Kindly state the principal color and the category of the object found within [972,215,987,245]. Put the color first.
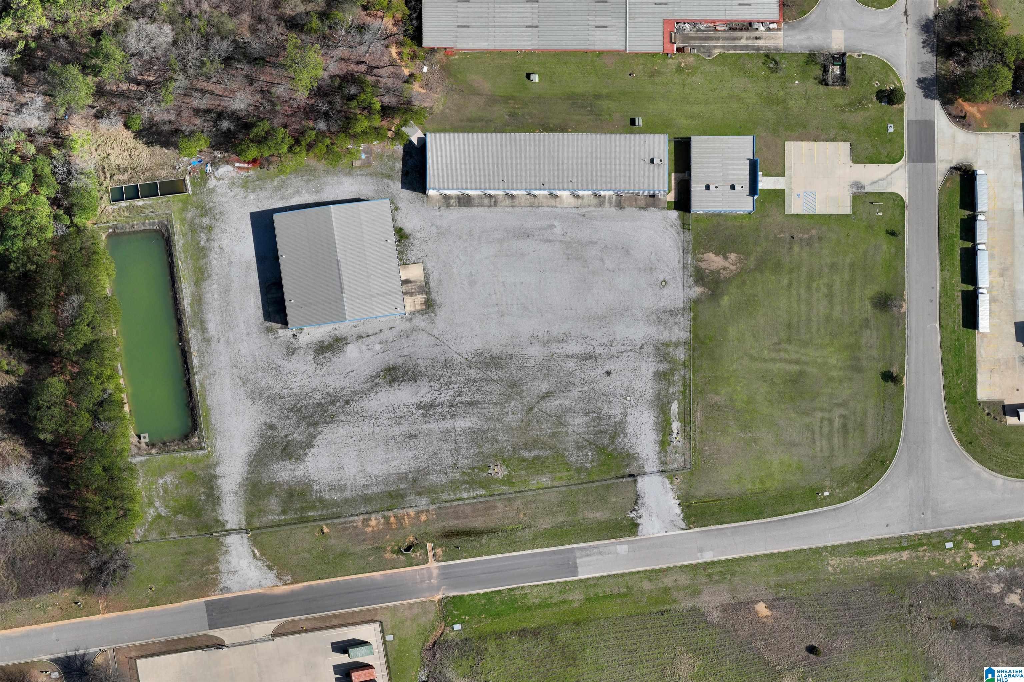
white vehicle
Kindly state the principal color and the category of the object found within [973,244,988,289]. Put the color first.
white vehicle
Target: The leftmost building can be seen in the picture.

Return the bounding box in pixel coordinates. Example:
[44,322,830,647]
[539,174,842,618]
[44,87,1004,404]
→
[273,199,407,329]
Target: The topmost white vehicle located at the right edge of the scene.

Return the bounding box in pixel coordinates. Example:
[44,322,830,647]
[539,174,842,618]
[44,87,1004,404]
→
[972,171,987,212]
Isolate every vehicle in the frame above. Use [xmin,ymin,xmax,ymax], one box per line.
[973,244,988,289]
[1013,408,1024,421]
[972,171,987,212]
[972,215,987,245]
[973,288,989,332]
